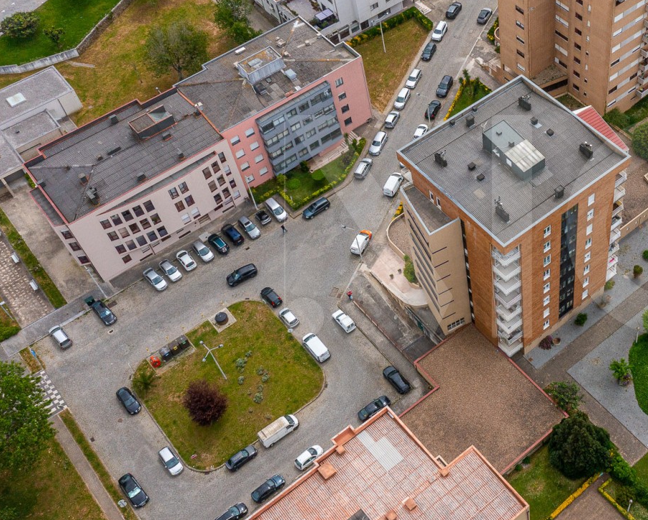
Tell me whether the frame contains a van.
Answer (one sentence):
Yes, looking at the shot, I can spot a van.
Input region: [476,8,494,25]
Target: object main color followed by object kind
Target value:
gray car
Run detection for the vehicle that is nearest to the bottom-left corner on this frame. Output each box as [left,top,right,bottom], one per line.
[118,473,150,510]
